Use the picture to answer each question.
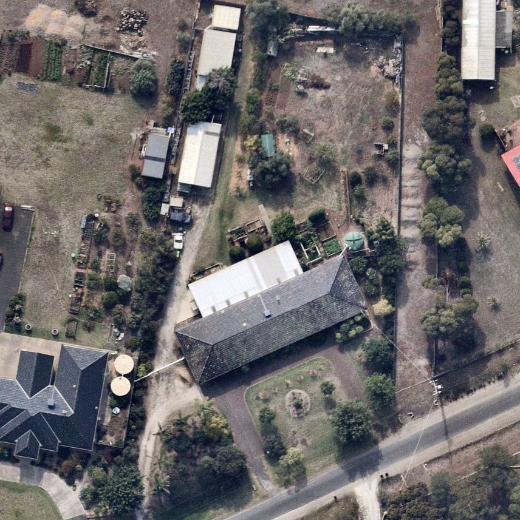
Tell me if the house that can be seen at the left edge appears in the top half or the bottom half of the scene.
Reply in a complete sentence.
You can find the house that can be seen at the left edge in the bottom half.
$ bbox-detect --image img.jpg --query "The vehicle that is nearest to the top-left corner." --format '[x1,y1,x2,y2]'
[1,204,15,230]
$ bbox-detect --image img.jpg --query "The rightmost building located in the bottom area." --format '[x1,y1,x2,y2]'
[175,241,365,383]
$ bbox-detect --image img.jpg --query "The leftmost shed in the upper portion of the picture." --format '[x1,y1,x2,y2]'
[141,134,170,179]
